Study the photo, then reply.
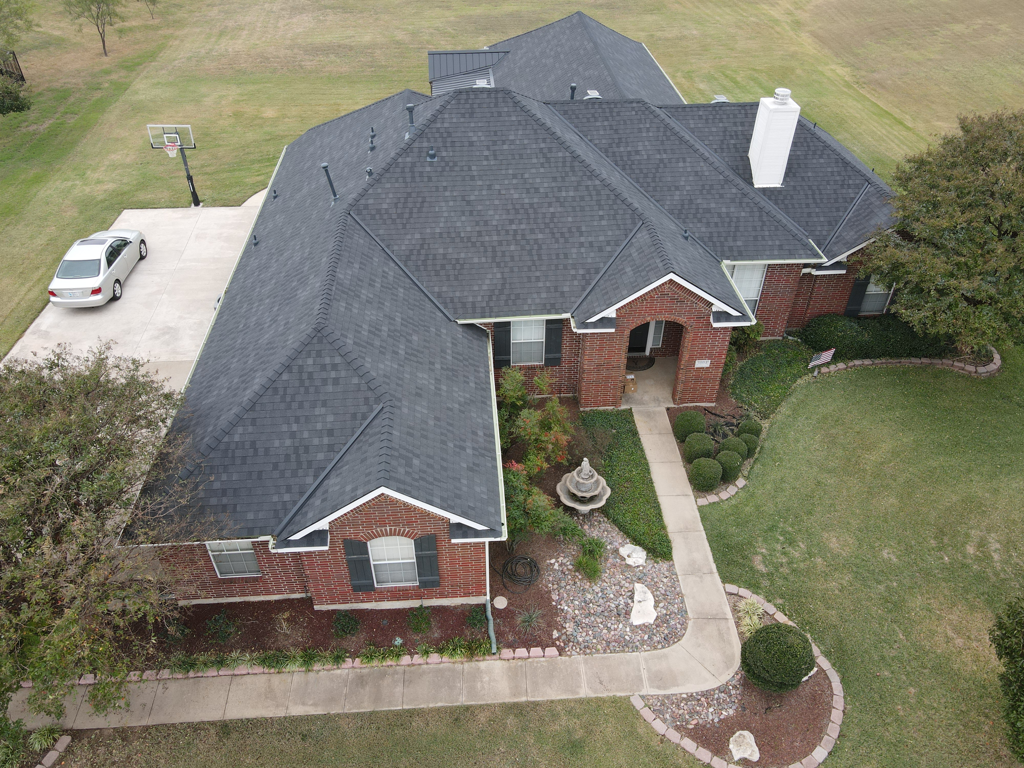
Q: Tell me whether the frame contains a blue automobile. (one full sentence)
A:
No, there appears to be no blue automobile in this shot.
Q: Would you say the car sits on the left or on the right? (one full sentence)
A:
You can find the car on the left side of the picture.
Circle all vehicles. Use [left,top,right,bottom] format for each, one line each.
[47,229,145,309]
